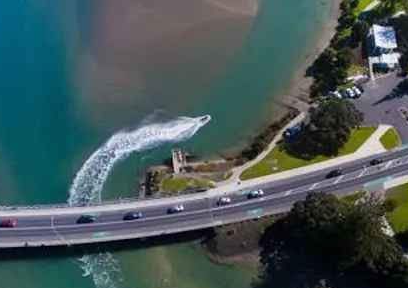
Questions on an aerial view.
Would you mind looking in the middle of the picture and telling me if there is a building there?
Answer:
No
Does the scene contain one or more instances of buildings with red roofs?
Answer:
No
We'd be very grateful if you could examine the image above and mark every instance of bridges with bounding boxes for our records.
[0,185,239,248]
